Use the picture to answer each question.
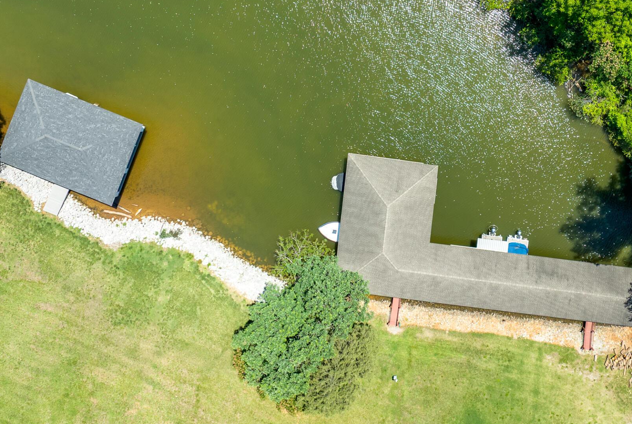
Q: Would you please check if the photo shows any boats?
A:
Yes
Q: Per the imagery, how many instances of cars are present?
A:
0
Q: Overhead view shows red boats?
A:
No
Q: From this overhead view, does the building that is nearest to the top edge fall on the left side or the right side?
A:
left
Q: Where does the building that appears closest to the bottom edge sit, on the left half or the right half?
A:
right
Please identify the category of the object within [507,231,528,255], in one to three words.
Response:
boat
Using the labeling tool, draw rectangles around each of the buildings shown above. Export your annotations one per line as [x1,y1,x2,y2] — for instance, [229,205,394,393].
[336,153,632,327]
[0,79,150,207]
